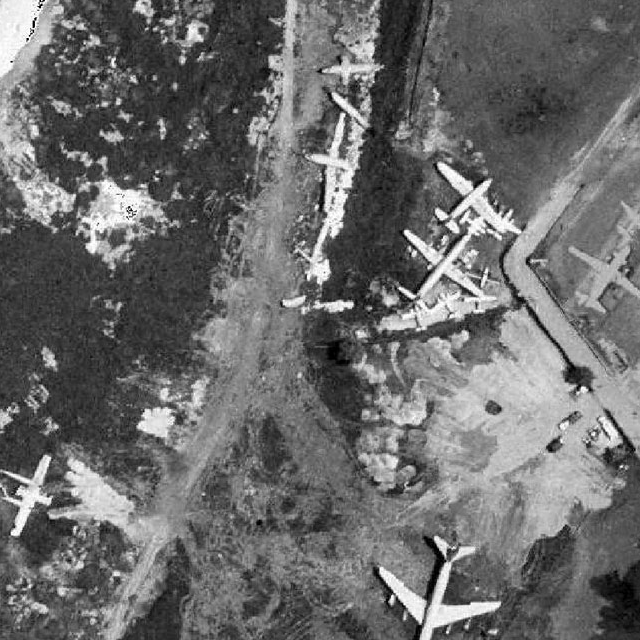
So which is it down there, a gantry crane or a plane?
plane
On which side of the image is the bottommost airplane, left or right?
right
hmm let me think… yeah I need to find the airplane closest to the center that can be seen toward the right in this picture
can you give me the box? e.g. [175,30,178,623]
[397,229,485,300]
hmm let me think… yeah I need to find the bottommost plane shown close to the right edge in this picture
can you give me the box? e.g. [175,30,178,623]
[569,244,640,314]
